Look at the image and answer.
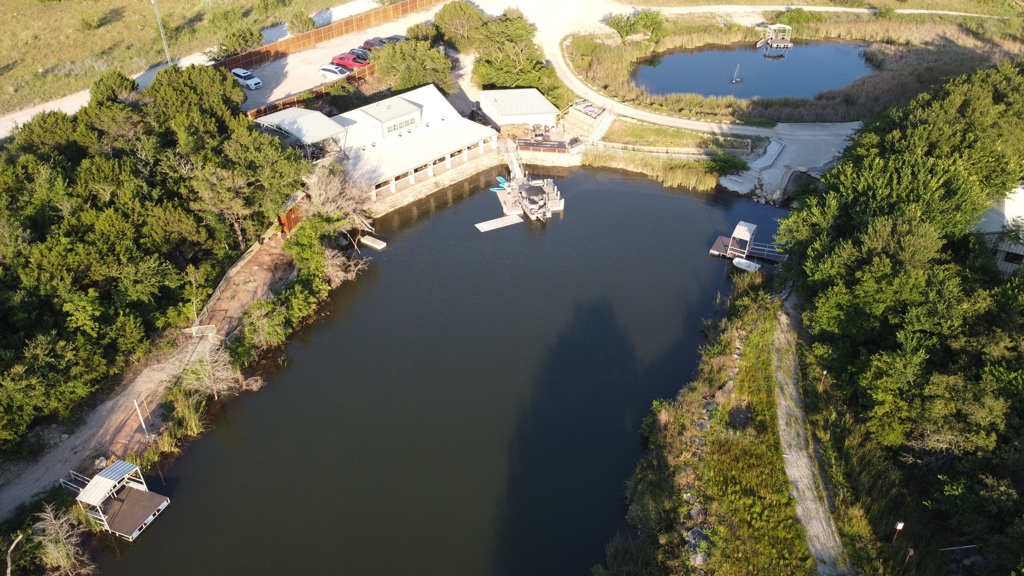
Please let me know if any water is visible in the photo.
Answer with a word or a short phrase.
Yes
